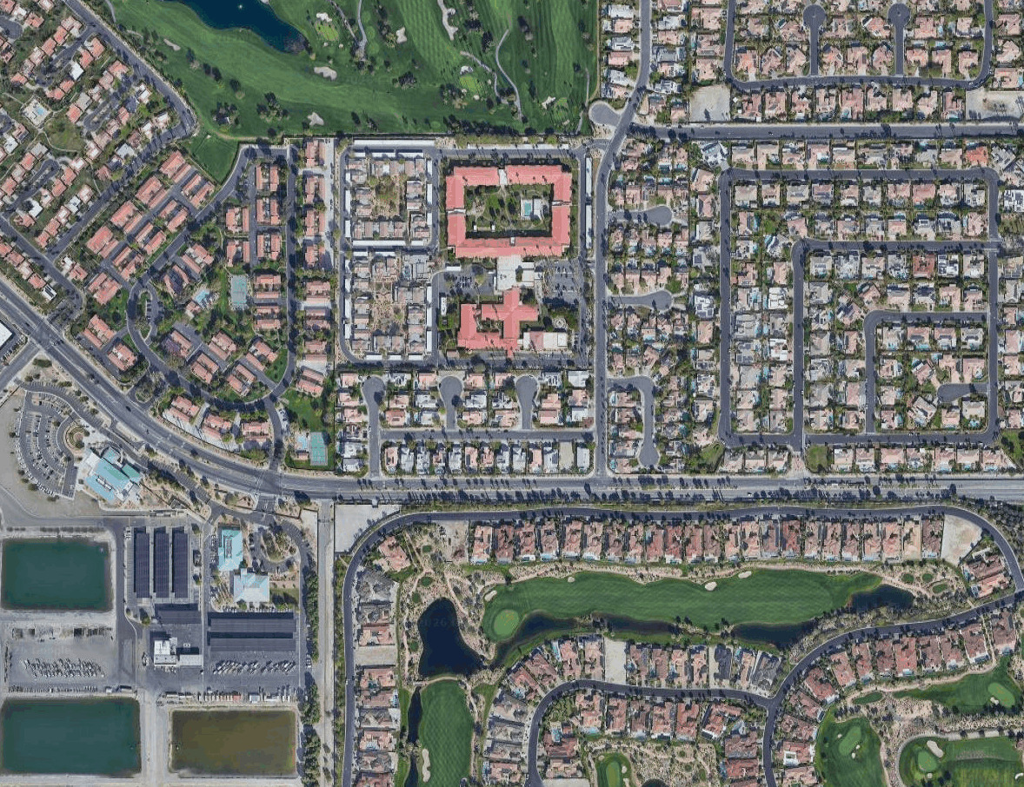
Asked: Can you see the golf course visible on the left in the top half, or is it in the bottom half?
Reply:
top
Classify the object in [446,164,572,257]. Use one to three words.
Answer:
building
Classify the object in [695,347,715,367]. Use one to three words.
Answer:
house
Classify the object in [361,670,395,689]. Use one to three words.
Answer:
house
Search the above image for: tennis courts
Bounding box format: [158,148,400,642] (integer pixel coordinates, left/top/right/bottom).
[231,274,247,309]
[310,431,327,465]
